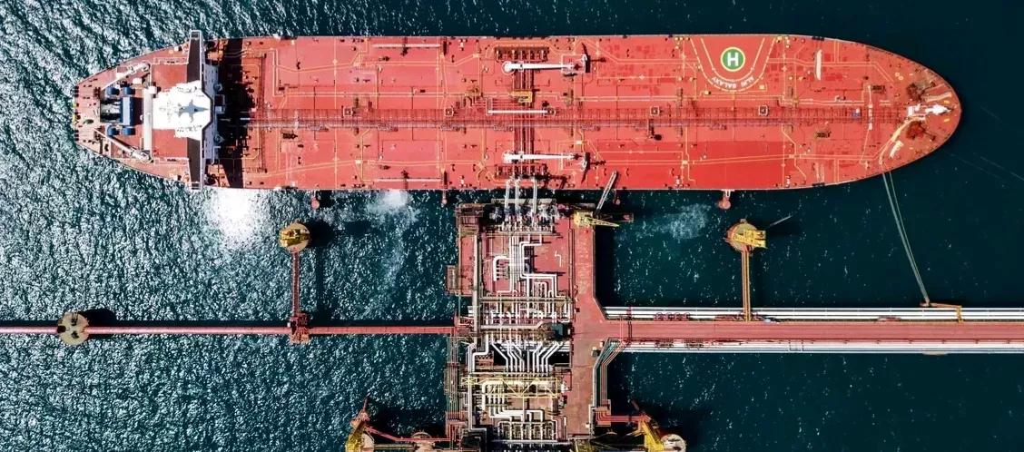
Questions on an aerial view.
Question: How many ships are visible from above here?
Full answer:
Just 1 ship appears in this view.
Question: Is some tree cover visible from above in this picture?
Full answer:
No, the picture contains no tree cover.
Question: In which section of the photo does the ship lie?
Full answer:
The ship appears toward the top of the photo.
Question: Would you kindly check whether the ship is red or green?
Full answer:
The ship is red.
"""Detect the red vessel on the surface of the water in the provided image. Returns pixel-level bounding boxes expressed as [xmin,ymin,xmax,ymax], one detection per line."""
[75,30,961,196]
